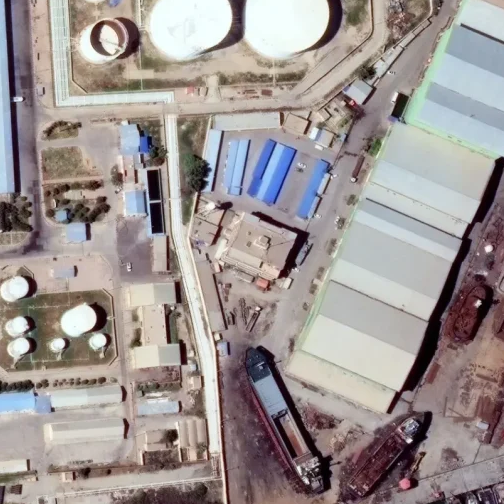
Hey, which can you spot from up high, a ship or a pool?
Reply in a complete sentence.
The one in the frame is a ship.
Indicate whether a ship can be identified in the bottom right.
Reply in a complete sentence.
Yes, I can see a ship in the bottom right.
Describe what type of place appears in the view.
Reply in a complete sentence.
What you see here is an industrial area.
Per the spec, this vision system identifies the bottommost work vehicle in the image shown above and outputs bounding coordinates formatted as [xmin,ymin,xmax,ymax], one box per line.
[406,450,427,479]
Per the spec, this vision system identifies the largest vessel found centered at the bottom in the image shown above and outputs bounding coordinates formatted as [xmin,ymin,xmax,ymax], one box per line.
[245,346,328,495]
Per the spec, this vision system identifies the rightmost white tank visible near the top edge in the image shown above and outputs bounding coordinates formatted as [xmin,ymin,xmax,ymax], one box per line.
[242,0,330,61]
